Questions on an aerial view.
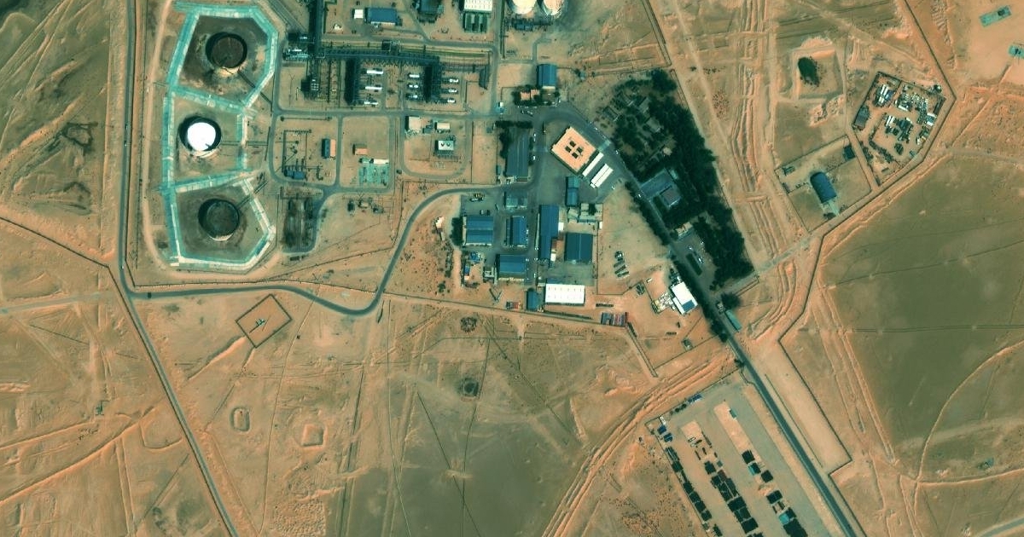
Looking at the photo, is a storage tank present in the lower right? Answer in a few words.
No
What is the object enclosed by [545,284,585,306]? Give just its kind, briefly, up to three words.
building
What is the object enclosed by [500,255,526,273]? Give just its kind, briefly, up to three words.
building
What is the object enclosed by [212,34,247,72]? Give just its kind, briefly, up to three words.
storage tank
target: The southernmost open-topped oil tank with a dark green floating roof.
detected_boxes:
[204,199,240,237]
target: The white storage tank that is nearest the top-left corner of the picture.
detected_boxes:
[185,117,221,155]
